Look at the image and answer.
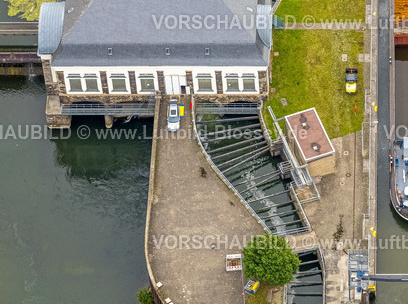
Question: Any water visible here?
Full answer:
Yes, water shows up in the scene.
